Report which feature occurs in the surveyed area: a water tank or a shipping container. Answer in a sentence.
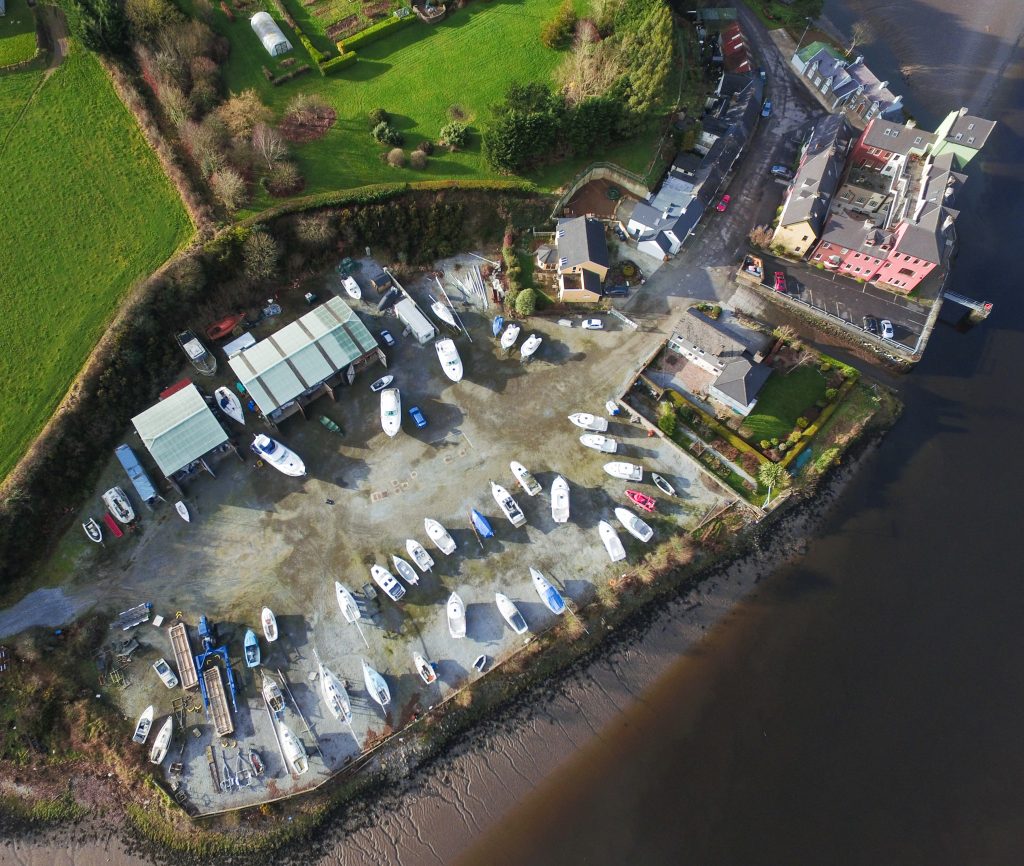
This aerial view contains a shipping container.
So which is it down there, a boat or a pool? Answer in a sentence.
The image shows a boat.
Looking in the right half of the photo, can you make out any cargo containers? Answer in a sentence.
No, in the right half of the photo there is no cargo container.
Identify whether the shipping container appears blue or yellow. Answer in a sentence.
The color of the shipping container is blue.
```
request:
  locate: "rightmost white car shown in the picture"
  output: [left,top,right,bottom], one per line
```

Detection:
[879,320,894,340]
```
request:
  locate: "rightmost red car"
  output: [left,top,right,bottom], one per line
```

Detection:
[773,271,785,291]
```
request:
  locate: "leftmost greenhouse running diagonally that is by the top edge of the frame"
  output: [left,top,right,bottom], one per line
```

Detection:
[249,4,291,52]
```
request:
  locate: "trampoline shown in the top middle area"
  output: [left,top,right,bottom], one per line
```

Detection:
[604,185,622,202]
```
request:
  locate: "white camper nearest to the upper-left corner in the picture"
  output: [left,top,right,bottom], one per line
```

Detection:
[396,298,436,346]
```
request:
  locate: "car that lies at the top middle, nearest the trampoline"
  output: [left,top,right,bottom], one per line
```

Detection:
[612,224,628,242]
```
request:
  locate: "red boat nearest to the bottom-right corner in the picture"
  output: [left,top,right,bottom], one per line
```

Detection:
[625,489,657,512]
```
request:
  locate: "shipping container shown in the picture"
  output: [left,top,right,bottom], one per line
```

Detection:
[116,444,161,510]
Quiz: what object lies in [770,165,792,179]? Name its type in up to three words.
car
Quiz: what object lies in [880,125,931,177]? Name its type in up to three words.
house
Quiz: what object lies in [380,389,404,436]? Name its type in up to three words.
boat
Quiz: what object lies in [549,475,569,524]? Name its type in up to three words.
boat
